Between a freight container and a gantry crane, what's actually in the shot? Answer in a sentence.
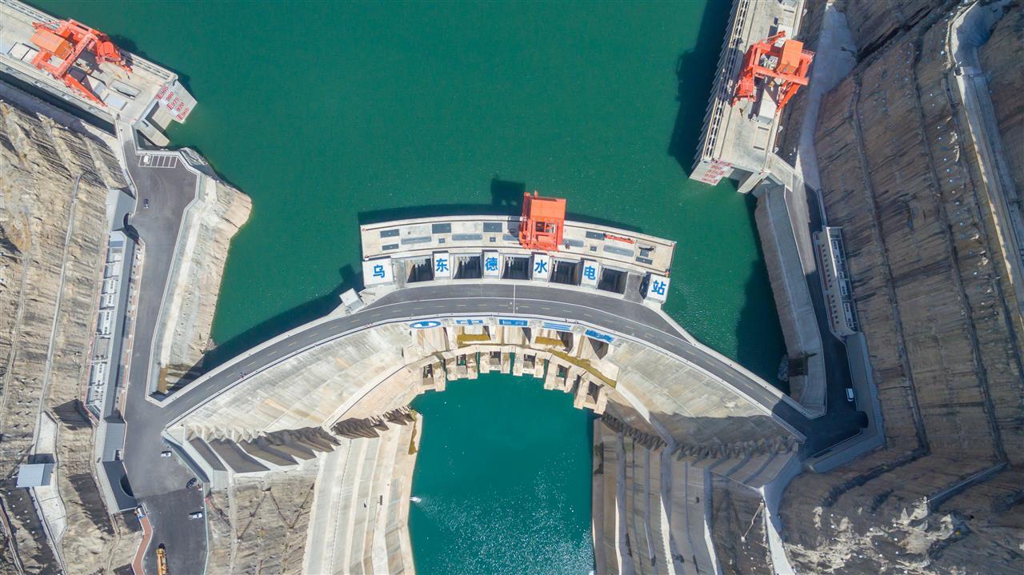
It is a gantry crane that can be seen here.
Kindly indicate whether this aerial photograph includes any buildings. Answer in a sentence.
Yes, a building can be made out from above.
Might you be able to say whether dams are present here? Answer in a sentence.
Yes, the image includes a dam.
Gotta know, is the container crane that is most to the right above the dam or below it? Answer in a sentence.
The position of the container crane that is most to the right is above the dam.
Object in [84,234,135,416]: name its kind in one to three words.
building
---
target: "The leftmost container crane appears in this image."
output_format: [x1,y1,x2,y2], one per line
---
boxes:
[26,15,133,109]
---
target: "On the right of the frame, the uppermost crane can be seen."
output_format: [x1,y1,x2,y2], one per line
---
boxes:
[731,32,818,119]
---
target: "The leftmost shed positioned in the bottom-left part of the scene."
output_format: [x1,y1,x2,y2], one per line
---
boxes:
[21,463,67,487]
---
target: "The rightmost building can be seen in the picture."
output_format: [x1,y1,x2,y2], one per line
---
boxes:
[820,226,858,335]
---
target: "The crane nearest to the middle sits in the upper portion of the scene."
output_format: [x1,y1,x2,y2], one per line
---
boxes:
[515,192,566,250]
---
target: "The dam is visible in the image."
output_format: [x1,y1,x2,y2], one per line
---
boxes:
[162,213,811,454]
